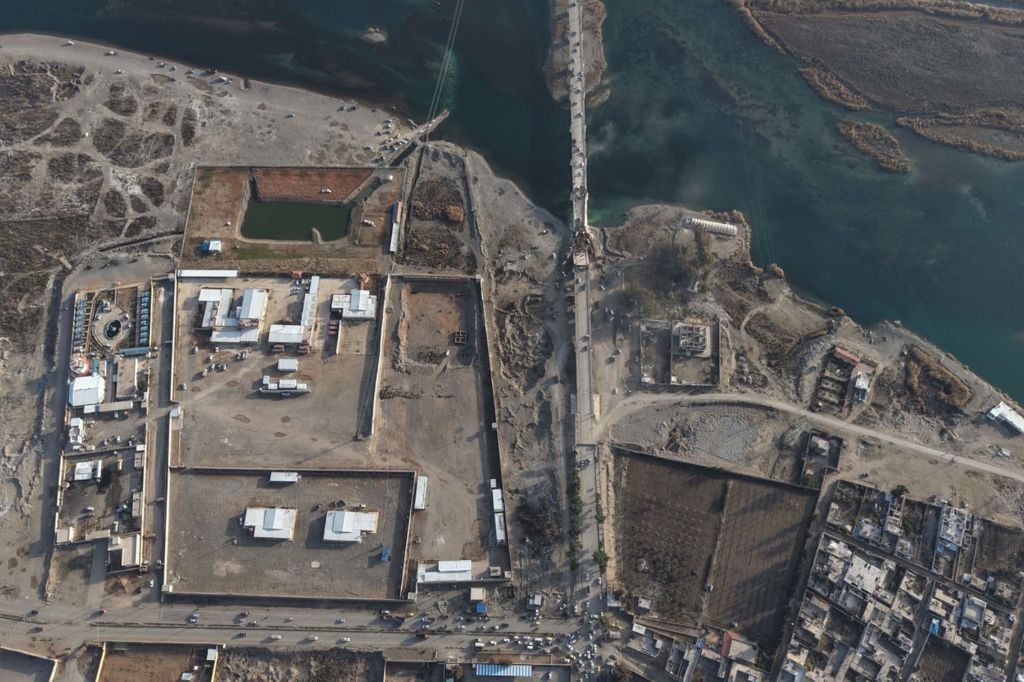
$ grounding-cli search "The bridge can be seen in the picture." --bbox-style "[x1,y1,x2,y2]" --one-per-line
[567,0,598,442]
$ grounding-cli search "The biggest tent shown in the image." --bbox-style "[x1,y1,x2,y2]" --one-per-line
[69,377,109,407]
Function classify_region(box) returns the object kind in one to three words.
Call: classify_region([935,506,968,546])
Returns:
house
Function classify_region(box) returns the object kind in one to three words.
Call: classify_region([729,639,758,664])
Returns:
house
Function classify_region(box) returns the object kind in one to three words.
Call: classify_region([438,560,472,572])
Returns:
building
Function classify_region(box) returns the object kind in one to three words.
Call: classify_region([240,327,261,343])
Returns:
building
